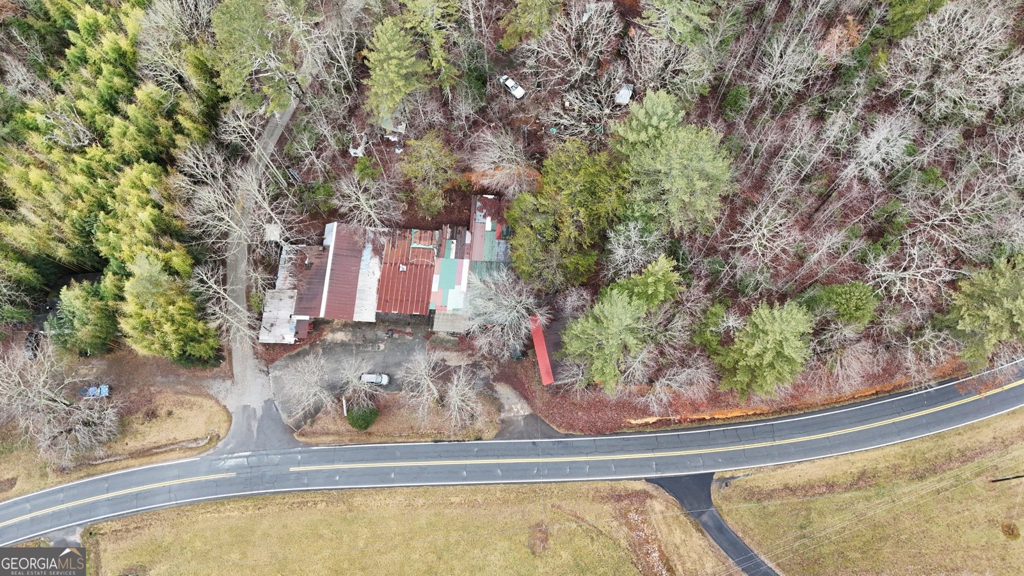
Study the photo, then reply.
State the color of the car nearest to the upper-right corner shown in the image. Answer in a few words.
white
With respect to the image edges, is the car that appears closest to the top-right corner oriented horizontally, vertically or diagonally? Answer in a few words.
diagonally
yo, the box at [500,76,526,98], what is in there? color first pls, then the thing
white car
